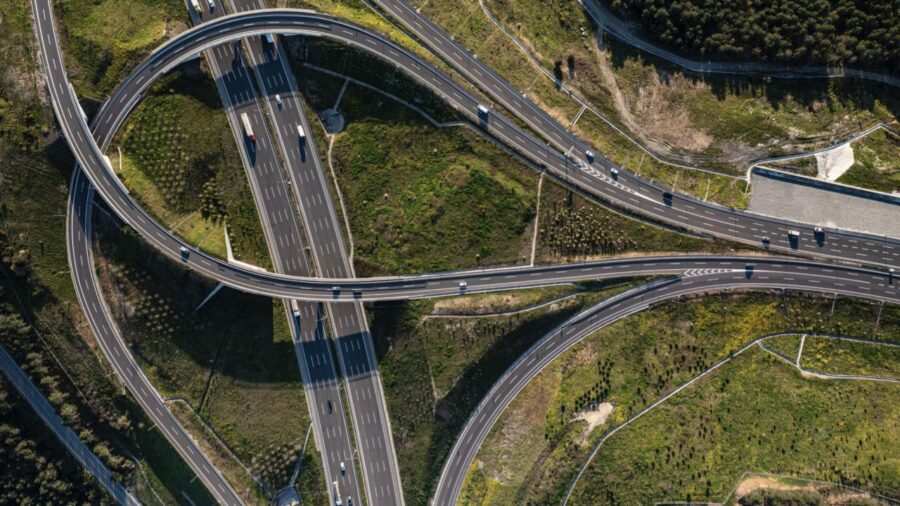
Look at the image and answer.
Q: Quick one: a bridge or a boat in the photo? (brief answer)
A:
bridge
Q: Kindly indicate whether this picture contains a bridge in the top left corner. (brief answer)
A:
Yes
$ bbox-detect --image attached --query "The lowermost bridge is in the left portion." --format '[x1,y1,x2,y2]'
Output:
[237,264,427,304]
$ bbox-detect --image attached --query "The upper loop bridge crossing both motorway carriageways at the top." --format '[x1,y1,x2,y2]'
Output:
[142,5,339,71]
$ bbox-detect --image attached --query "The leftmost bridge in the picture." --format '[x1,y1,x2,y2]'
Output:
[48,82,136,209]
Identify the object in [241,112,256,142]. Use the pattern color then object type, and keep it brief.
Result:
white vehicle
